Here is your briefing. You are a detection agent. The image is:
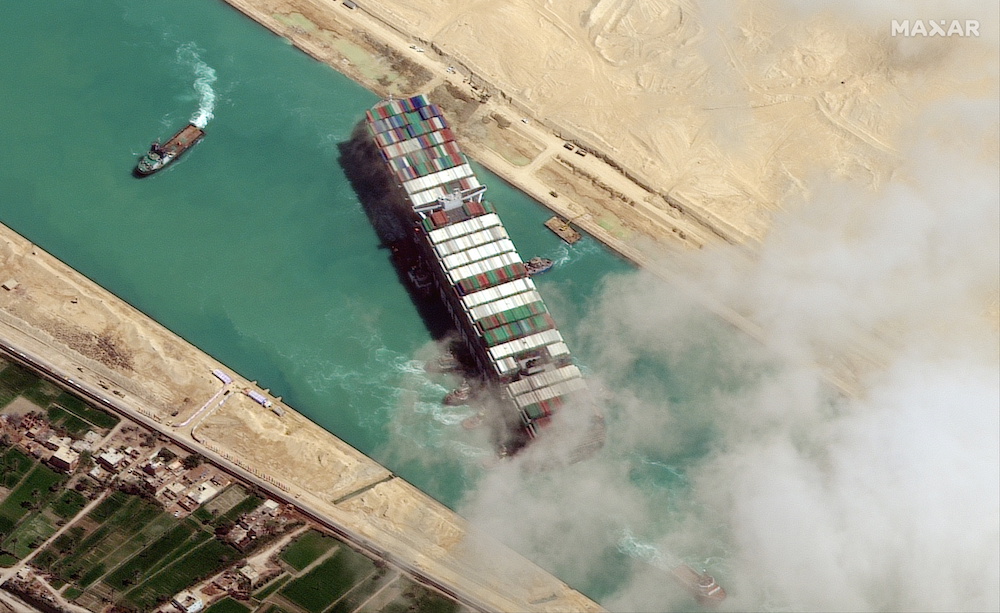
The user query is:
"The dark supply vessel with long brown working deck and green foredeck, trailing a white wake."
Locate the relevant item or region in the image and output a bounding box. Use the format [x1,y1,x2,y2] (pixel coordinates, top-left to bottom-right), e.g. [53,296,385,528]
[136,122,203,171]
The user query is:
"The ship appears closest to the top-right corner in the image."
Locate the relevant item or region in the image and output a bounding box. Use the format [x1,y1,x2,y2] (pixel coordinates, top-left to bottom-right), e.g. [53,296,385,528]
[544,215,581,244]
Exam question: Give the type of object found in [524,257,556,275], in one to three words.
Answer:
boat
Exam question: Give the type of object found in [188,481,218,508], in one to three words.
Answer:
house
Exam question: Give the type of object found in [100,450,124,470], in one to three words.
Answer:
house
